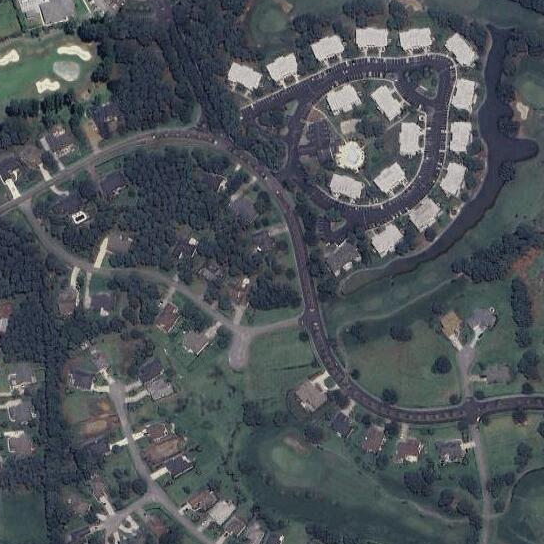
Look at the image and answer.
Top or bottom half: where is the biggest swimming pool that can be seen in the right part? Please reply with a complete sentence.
It is in the top half that the biggest swimming pool that can be seen in the right part appears.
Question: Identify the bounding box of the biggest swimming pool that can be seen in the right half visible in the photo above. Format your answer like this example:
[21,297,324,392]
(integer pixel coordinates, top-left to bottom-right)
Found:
[335,142,361,170]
